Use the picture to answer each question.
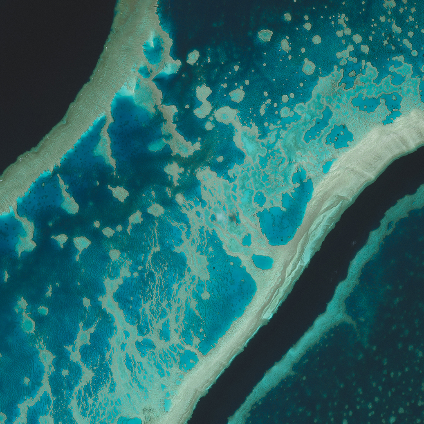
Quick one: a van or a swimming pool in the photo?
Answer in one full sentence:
This aerial view contains a swimming pool.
